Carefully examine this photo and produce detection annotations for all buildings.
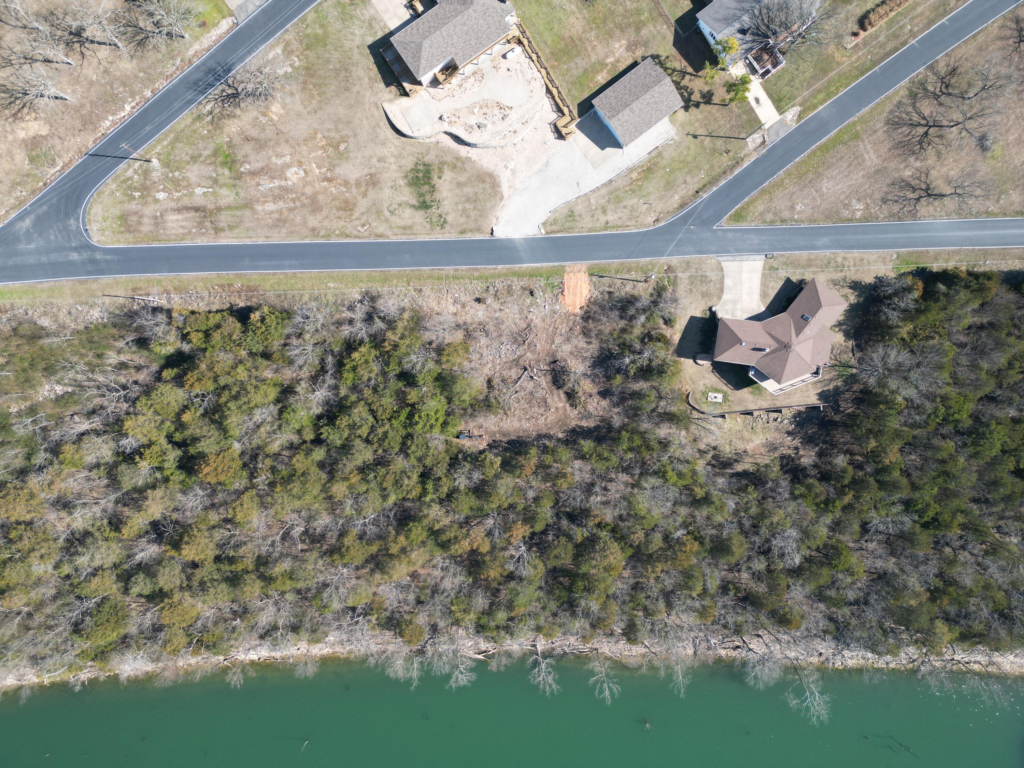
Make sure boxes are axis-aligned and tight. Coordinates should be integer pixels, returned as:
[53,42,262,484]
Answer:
[710,277,849,395]
[591,57,684,151]
[695,0,822,85]
[379,0,523,102]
